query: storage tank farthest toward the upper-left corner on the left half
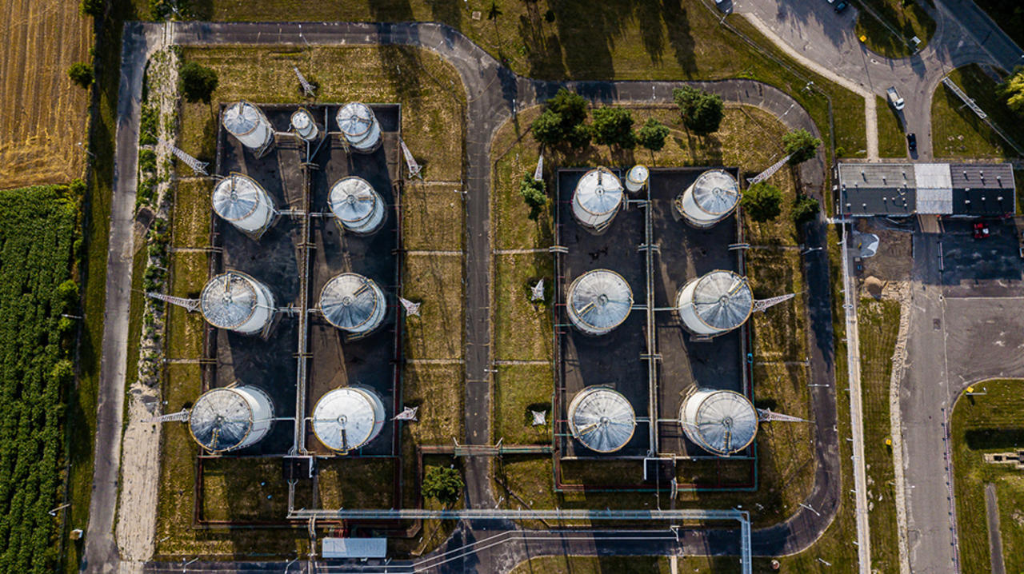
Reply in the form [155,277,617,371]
[221,96,277,154]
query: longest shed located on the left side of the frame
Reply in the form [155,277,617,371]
[321,535,388,560]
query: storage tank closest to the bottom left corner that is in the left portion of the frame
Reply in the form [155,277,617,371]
[186,386,274,457]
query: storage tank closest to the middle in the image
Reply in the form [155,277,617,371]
[567,269,635,335]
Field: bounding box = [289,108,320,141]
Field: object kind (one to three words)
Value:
storage tank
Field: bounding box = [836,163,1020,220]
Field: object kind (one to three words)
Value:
building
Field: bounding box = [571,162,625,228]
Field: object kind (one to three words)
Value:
storage tank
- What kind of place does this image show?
industrial area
